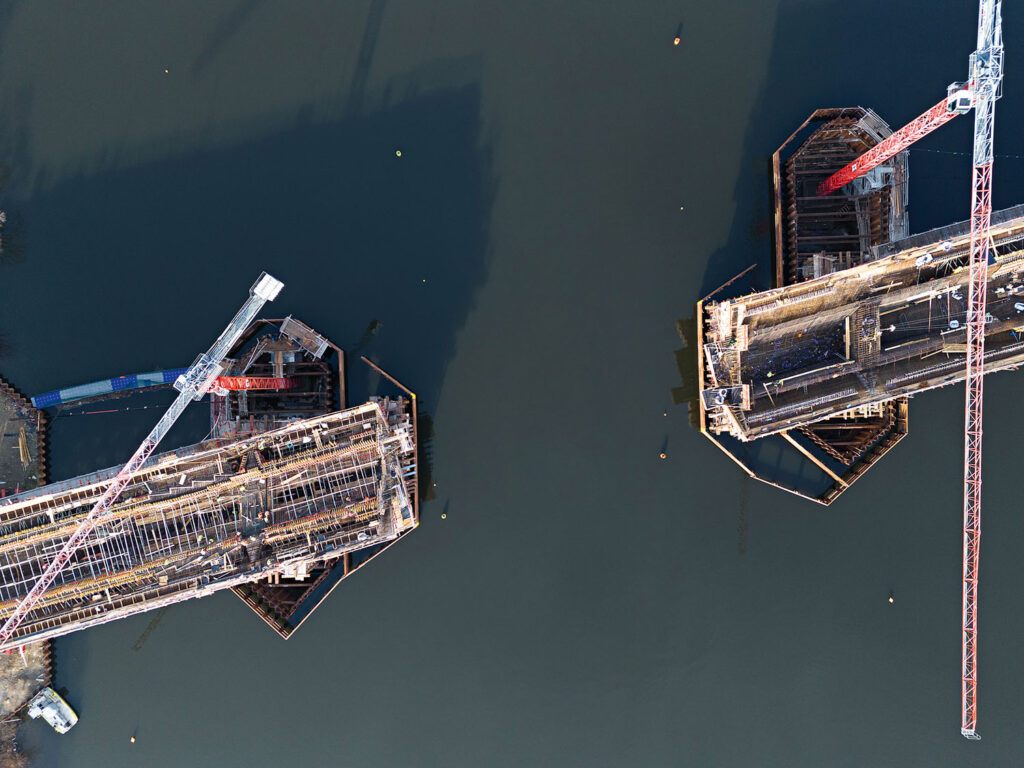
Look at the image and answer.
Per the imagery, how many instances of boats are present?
1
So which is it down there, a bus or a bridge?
bridge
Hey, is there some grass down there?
No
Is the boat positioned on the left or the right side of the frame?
left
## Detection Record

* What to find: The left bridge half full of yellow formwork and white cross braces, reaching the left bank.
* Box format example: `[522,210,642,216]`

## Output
[0,398,420,653]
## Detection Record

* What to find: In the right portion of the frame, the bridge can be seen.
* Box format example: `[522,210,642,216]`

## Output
[702,205,1024,441]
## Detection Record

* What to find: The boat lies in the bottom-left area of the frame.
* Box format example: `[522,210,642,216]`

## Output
[26,683,79,735]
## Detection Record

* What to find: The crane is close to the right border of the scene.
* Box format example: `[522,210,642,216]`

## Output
[820,0,1001,745]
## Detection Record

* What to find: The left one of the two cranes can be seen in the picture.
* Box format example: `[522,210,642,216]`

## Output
[0,271,306,658]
